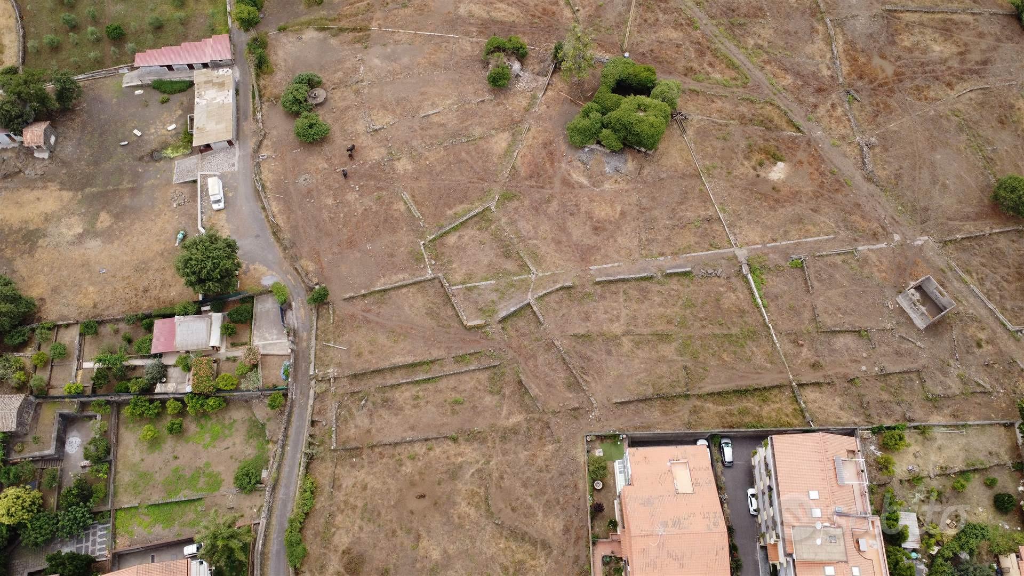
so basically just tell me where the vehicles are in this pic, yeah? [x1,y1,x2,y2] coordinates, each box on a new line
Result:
[696,439,713,464]
[718,439,735,467]
[208,175,224,210]
[744,488,756,517]
[178,542,199,557]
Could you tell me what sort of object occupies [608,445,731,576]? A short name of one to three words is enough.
house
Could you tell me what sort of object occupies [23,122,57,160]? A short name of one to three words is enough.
shed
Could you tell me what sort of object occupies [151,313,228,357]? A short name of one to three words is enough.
house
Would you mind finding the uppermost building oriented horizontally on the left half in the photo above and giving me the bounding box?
[134,34,234,73]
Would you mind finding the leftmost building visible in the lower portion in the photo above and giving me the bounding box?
[0,394,37,436]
